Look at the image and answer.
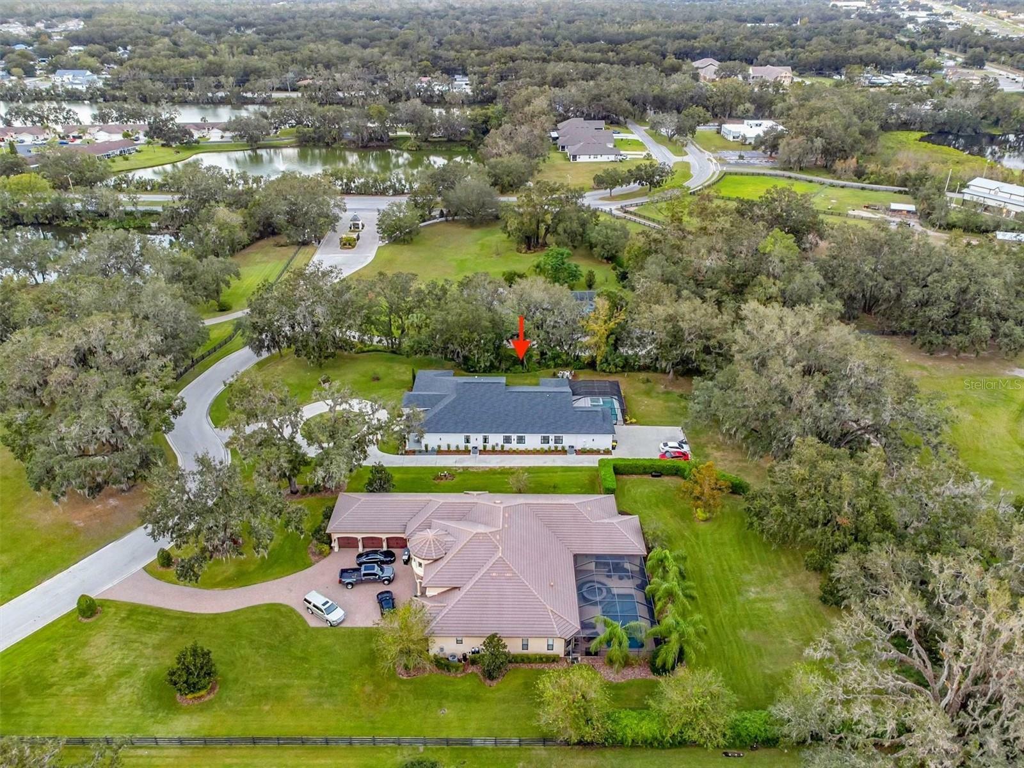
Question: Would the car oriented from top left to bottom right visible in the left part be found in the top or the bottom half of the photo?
bottom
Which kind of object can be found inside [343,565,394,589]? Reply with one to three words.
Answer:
truck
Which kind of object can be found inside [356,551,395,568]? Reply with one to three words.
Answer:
car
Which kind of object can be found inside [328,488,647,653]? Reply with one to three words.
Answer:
house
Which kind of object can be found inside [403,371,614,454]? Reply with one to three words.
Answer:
house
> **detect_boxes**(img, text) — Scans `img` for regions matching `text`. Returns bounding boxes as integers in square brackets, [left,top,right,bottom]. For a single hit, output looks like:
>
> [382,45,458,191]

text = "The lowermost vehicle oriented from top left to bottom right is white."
[303,590,346,626]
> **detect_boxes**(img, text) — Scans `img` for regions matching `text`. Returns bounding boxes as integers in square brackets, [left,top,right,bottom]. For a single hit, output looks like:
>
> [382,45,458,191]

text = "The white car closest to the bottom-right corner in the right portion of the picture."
[659,438,689,453]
